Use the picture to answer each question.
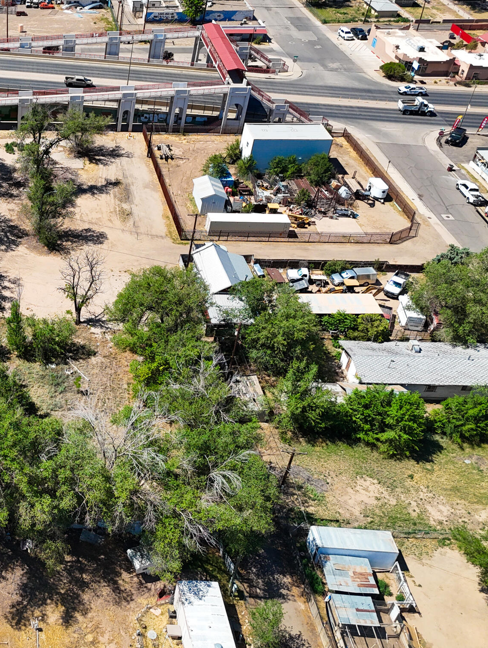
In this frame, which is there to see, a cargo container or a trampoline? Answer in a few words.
cargo container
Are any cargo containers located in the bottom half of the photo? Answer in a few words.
Yes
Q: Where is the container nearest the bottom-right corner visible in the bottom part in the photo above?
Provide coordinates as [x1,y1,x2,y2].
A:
[304,526,399,569]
